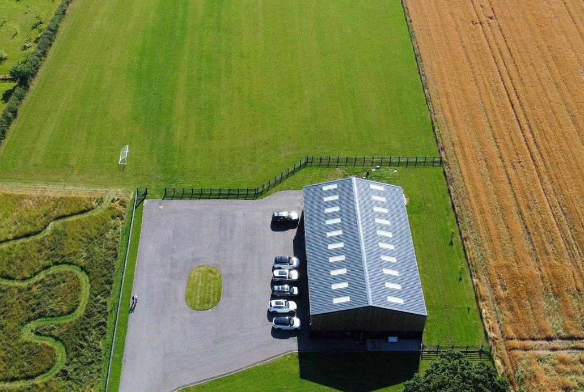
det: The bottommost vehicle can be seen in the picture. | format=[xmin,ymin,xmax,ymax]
[271,316,302,332]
